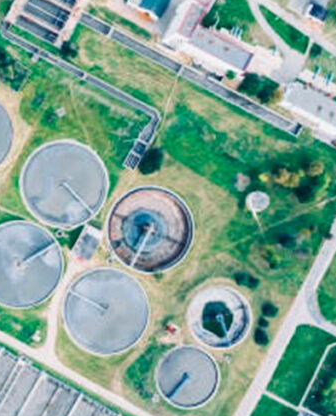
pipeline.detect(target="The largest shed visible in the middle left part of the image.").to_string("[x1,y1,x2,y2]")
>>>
[76,233,101,261]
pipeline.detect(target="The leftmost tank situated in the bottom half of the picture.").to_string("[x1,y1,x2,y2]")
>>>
[0,221,63,309]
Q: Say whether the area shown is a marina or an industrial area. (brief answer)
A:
industrial area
